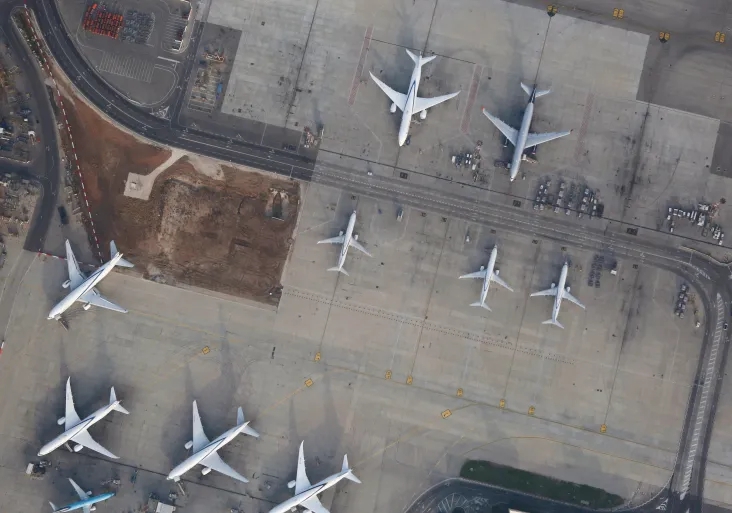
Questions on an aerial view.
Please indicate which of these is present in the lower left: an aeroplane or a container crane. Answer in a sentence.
You can see an aeroplane in the lower left.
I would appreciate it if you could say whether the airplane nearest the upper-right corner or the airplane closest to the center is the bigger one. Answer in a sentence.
The larger object is the airplane nearest the upper-right corner, with the airplane closest to the center being the smaller of the pair.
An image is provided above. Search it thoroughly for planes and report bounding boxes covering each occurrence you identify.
[49,479,114,513]
[459,246,515,309]
[38,377,129,458]
[369,50,460,146]
[317,211,372,274]
[48,239,133,319]
[279,447,360,513]
[481,84,573,181]
[530,263,586,327]
[167,399,258,480]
